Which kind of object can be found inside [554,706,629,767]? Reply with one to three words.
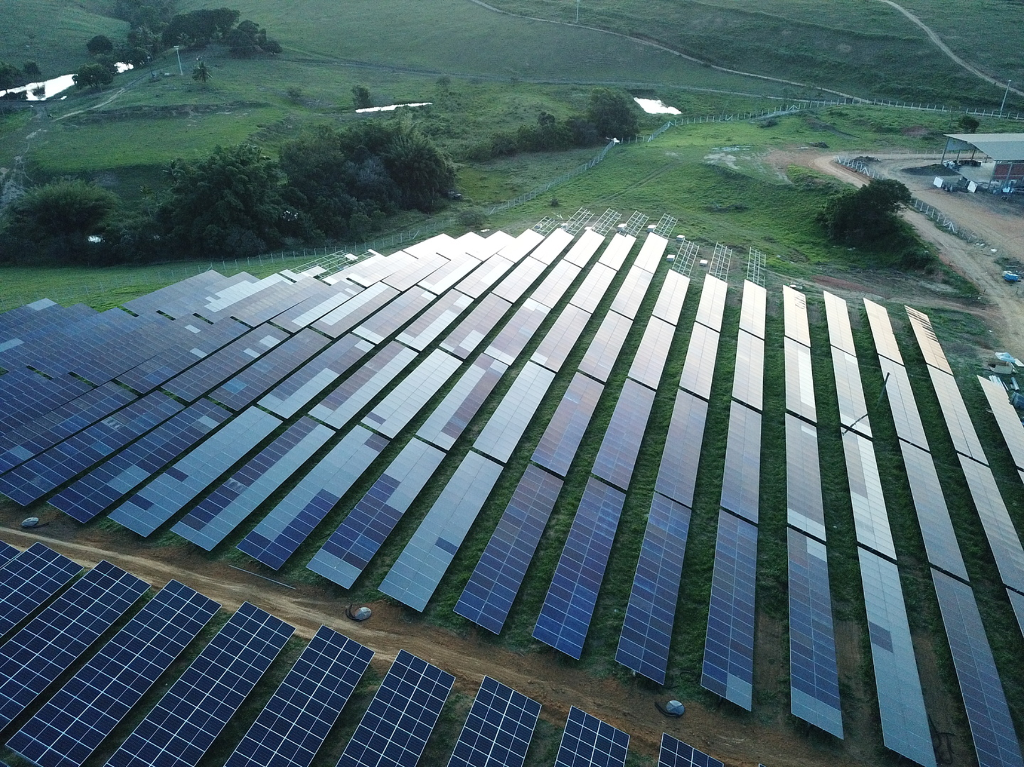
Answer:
solar array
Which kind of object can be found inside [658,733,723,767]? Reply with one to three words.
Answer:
solar array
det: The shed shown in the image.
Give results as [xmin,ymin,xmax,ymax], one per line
[938,137,1024,189]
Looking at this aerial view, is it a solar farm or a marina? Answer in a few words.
solar farm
